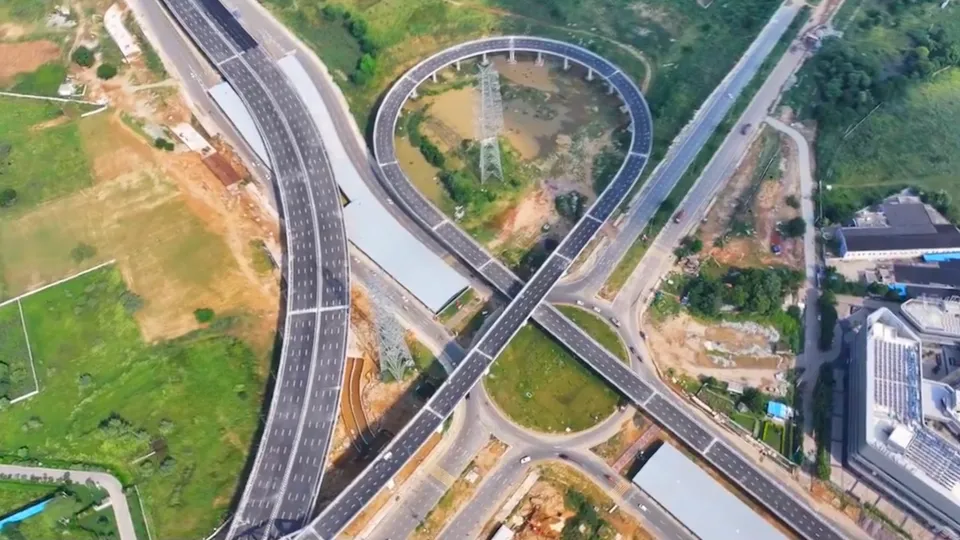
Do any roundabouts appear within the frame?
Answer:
Yes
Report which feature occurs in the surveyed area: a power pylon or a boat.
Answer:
power pylon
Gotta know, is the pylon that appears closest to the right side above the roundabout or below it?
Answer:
above it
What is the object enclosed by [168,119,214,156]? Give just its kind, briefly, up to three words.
shed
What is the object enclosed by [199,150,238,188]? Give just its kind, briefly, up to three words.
shed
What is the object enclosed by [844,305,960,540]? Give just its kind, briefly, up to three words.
building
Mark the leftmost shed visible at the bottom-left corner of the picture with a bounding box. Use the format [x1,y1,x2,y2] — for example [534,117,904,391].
[0,494,50,527]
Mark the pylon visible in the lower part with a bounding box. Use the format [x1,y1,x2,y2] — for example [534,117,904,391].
[358,269,416,391]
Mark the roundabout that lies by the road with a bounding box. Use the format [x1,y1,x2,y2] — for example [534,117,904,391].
[467,286,651,454]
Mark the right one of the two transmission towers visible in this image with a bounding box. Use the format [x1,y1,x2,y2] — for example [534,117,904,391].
[477,57,509,188]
